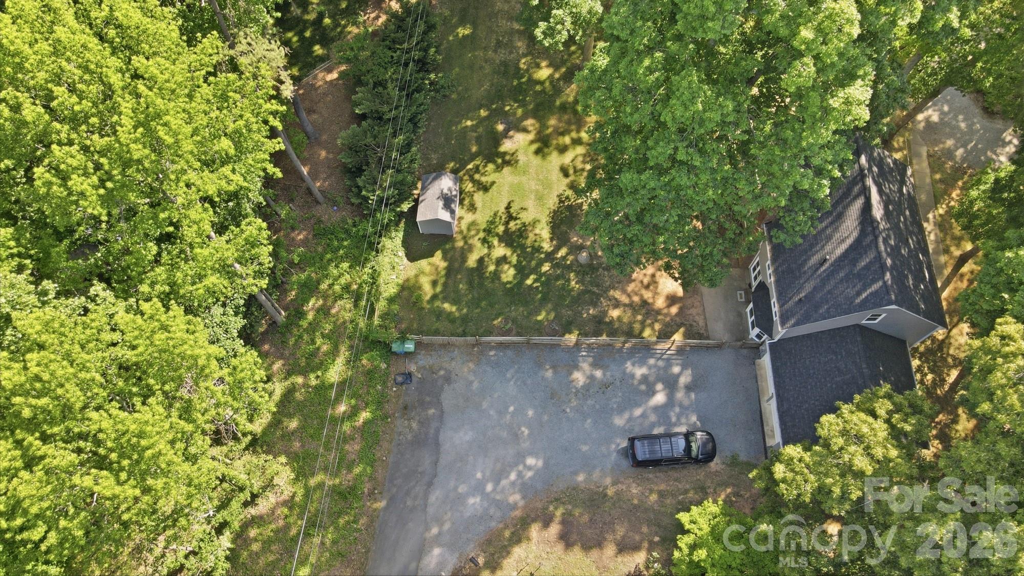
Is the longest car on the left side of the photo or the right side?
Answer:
right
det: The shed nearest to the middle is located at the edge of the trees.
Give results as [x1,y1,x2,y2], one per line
[416,167,460,236]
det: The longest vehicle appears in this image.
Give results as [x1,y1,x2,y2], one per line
[627,428,719,471]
